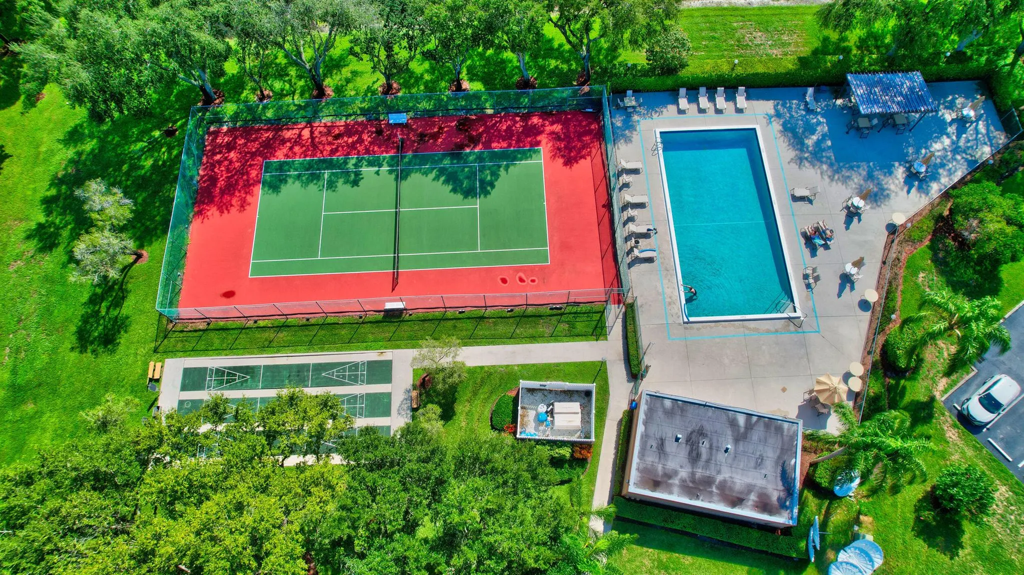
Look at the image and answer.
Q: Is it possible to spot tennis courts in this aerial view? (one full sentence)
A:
Yes, a tennis court can be made out from above.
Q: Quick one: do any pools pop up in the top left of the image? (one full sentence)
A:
No, I see no pool in the top left of the image.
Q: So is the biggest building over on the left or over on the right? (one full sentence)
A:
The biggest building appears in the right half of the scene.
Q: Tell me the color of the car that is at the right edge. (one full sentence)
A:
In this view, the car that is at the right edge is white.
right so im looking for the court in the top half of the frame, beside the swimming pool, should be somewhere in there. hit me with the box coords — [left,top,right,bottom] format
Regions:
[175,108,622,323]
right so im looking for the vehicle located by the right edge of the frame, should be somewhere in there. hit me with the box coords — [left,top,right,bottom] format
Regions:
[960,378,1024,428]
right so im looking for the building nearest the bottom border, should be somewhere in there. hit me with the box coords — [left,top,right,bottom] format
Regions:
[624,390,802,528]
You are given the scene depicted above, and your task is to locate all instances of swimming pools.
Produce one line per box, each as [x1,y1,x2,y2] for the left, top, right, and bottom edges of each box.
[655,124,801,321]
